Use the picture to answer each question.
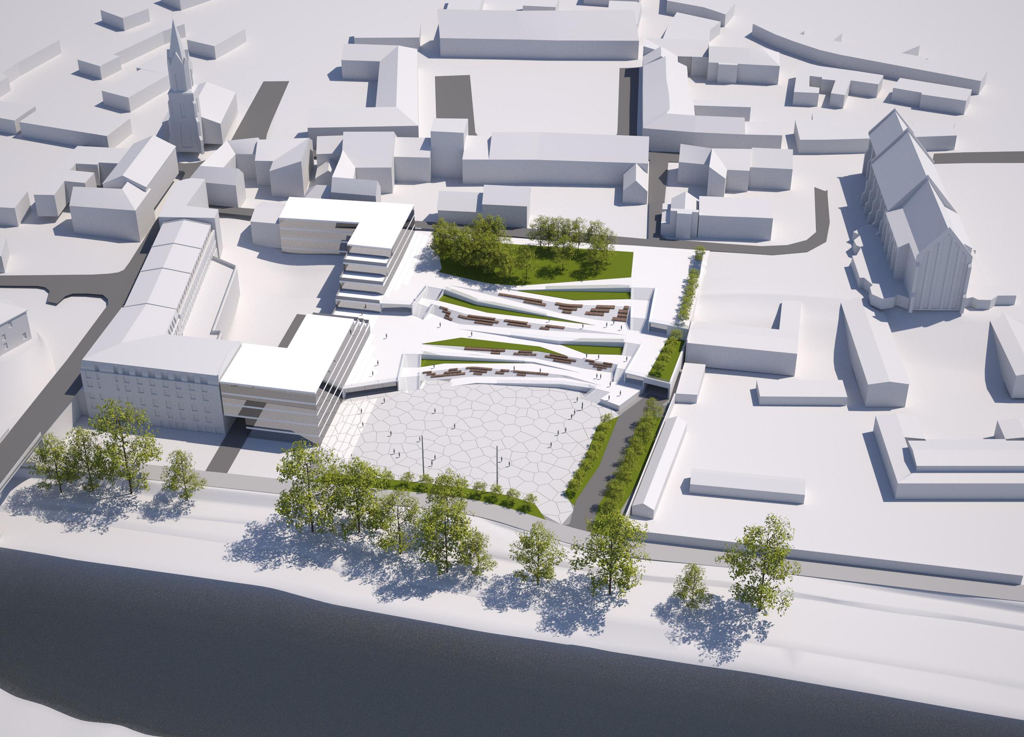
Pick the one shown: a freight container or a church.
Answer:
church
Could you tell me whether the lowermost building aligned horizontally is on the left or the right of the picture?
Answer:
right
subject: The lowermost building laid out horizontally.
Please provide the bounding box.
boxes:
[689,477,805,504]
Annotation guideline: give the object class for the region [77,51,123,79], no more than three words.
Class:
building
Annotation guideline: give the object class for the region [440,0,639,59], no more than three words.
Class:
building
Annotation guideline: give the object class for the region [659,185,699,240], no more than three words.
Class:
house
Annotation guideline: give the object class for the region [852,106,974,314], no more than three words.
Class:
church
